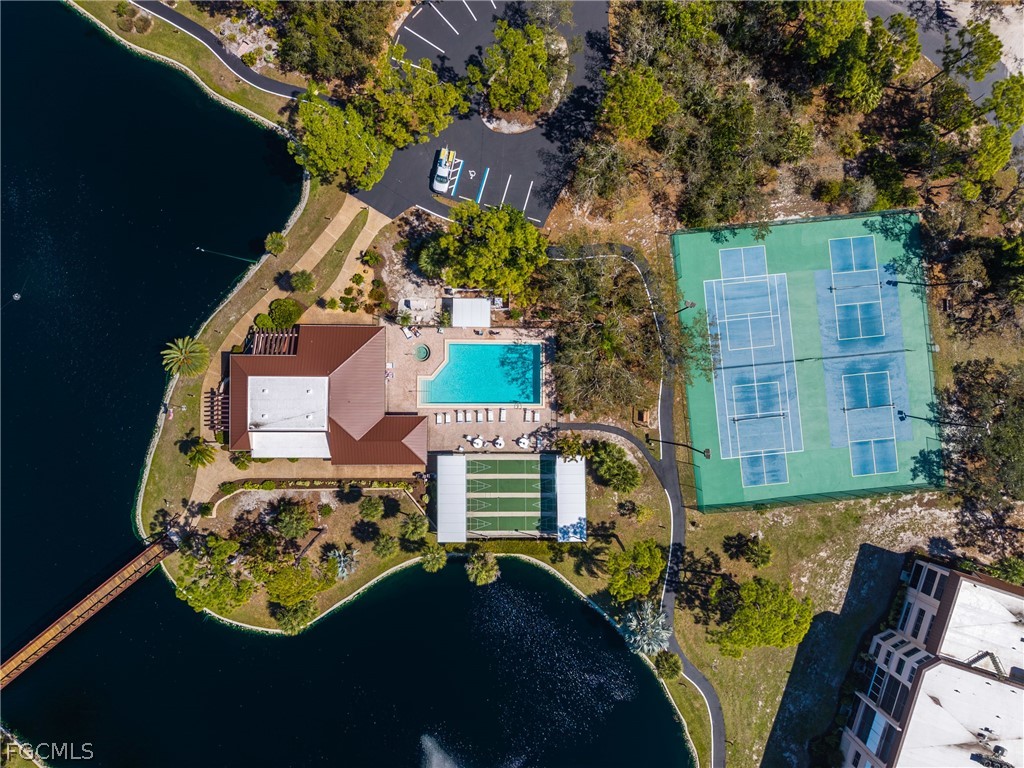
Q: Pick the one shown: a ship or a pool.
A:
pool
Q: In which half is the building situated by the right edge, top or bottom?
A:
bottom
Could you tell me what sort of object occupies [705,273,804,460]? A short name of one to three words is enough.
tennis court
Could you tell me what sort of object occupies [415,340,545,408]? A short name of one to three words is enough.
swimming pool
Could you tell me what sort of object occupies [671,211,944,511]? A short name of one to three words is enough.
sports court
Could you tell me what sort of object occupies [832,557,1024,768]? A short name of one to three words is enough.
building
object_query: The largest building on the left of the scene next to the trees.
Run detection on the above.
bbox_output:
[204,324,428,466]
